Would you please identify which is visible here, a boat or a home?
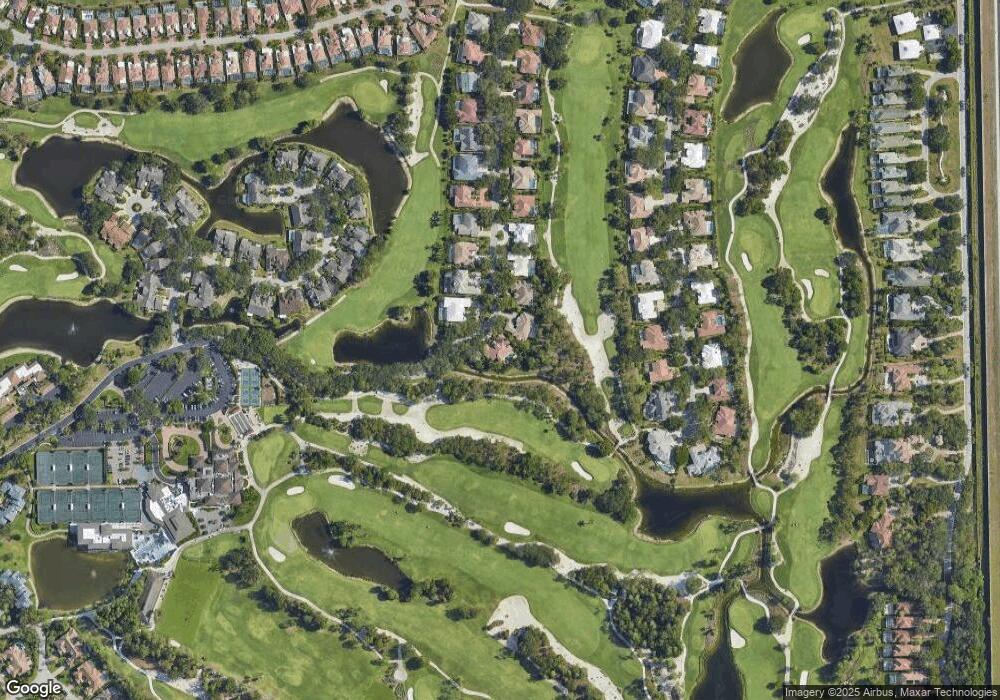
home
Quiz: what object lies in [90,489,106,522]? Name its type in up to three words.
tennis court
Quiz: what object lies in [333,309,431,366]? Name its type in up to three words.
pond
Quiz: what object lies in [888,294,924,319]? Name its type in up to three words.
house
